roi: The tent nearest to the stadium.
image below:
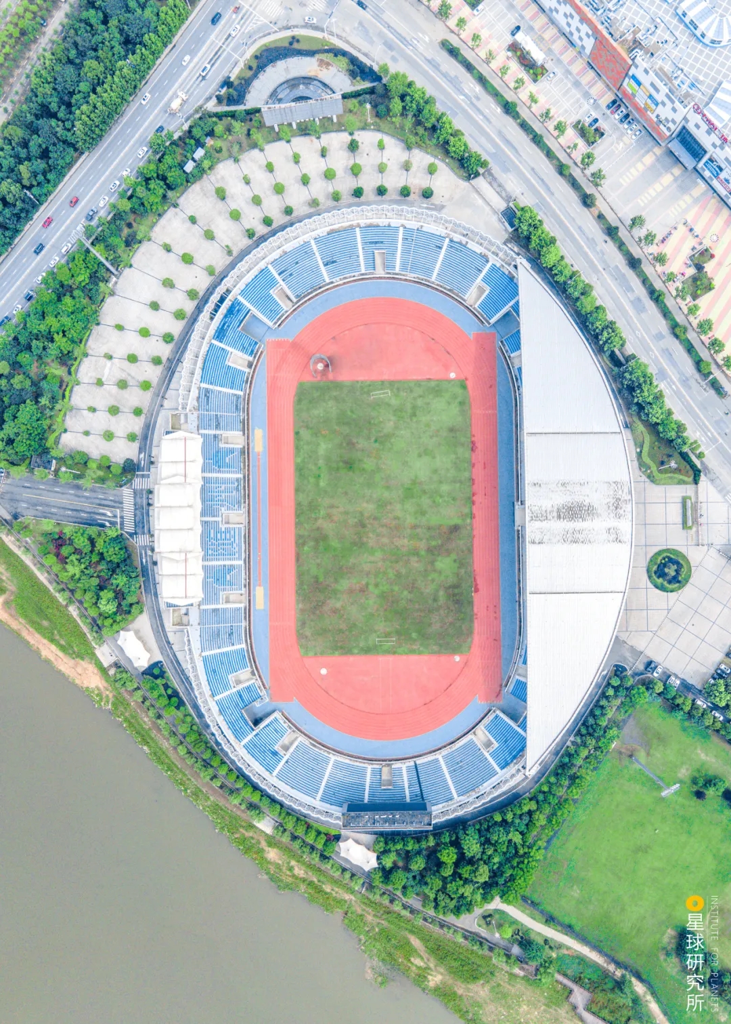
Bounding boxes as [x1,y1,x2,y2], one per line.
[339,837,377,871]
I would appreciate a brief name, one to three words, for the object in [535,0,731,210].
building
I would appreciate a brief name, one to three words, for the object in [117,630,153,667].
tent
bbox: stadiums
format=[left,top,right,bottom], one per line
[154,203,635,841]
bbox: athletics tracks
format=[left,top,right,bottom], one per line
[247,283,522,764]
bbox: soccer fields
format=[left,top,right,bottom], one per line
[294,380,474,656]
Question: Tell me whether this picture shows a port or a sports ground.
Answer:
sports ground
